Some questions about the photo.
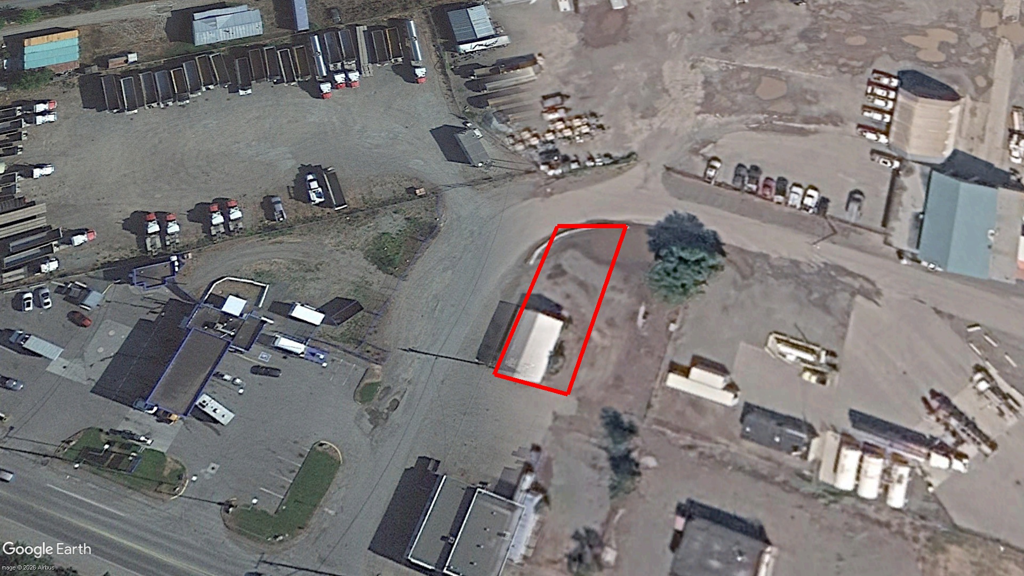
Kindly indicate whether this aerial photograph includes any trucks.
Yes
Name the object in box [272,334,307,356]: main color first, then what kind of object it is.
white truck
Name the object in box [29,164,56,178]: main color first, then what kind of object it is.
white vehicle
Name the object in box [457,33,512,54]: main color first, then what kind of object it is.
white trailer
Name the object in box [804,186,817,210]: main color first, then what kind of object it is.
white vehicle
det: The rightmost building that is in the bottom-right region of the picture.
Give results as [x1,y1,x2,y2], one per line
[740,411,812,455]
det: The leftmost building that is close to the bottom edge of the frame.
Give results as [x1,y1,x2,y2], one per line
[409,475,477,570]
